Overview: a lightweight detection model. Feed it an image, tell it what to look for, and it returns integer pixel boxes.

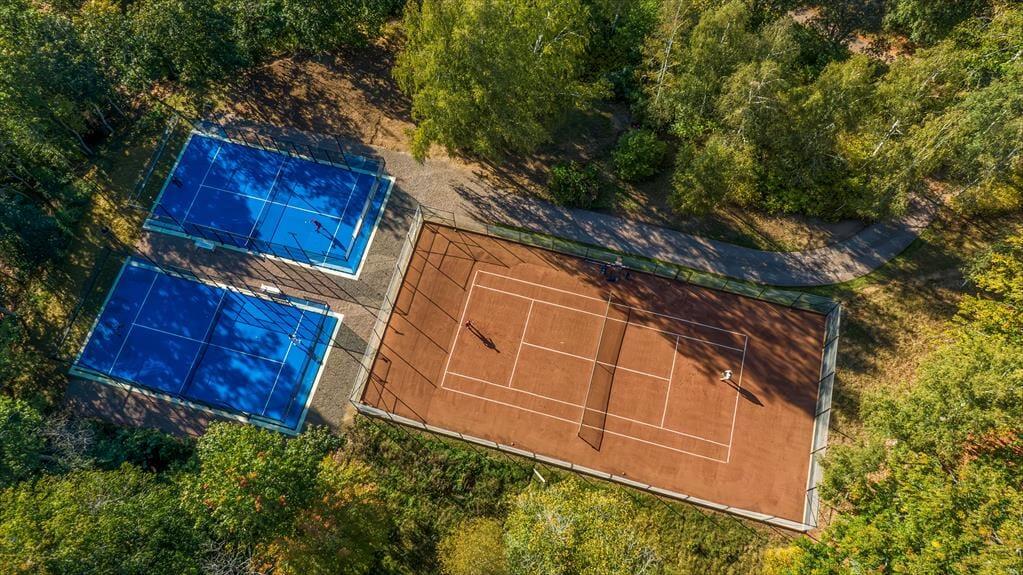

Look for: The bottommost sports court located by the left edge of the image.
[46,245,342,433]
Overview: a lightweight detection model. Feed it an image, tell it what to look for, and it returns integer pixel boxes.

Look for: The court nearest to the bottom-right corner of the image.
[360,223,825,528]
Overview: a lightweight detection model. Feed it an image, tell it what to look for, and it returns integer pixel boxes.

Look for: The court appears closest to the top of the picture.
[128,112,395,279]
